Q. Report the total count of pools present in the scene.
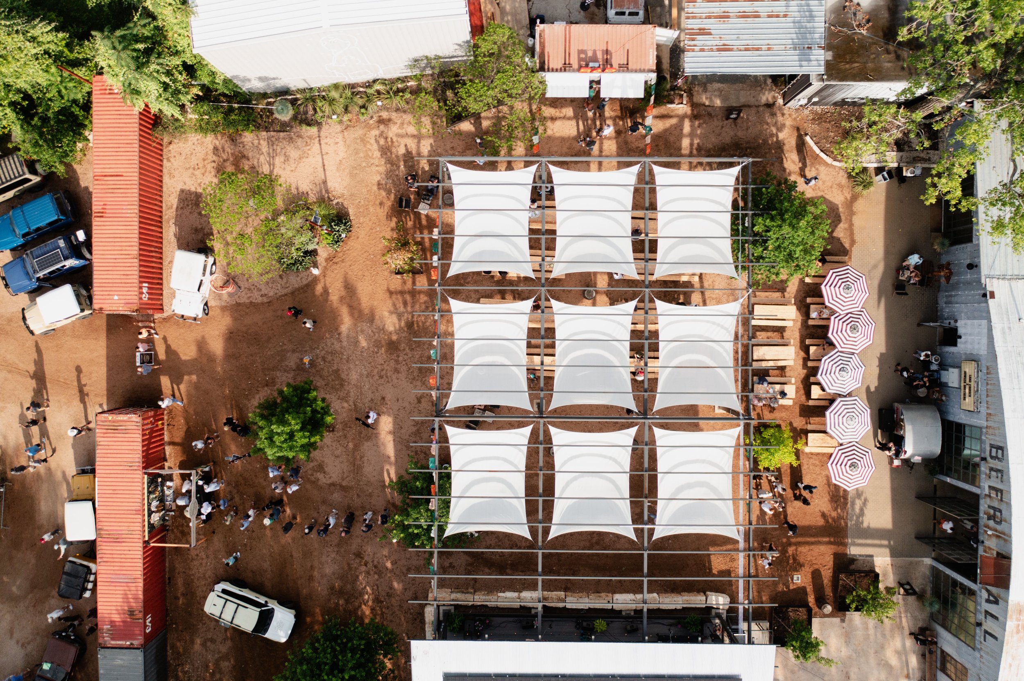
none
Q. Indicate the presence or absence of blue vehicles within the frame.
Yes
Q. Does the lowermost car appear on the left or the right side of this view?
left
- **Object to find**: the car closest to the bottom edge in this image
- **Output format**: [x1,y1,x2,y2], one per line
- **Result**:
[29,619,89,681]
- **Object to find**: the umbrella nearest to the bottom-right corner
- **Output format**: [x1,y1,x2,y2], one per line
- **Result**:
[825,440,875,487]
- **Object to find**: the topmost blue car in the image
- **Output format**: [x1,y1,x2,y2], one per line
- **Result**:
[0,188,91,250]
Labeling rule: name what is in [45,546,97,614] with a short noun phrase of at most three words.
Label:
car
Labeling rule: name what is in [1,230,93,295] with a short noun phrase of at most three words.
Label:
car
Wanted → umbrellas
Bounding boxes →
[817,267,867,313]
[819,395,870,444]
[815,349,865,397]
[825,307,876,352]
[825,440,875,487]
